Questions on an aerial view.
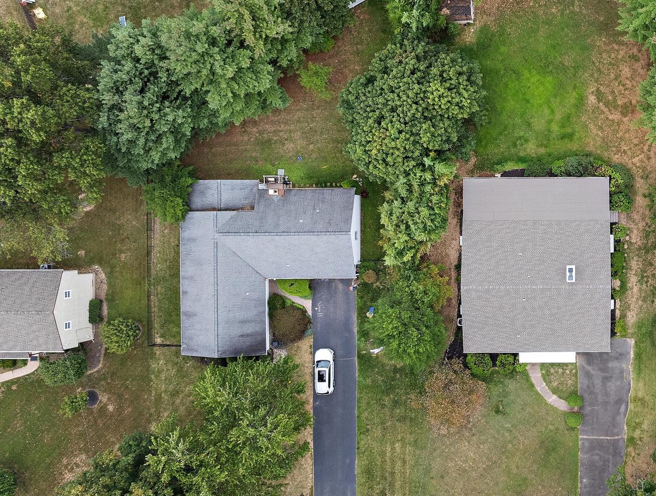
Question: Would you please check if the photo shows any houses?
Yes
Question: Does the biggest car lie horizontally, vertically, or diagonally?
vertically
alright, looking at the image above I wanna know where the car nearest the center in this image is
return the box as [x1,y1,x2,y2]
[312,348,335,394]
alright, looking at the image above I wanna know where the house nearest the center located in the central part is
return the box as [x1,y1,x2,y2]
[179,179,360,358]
